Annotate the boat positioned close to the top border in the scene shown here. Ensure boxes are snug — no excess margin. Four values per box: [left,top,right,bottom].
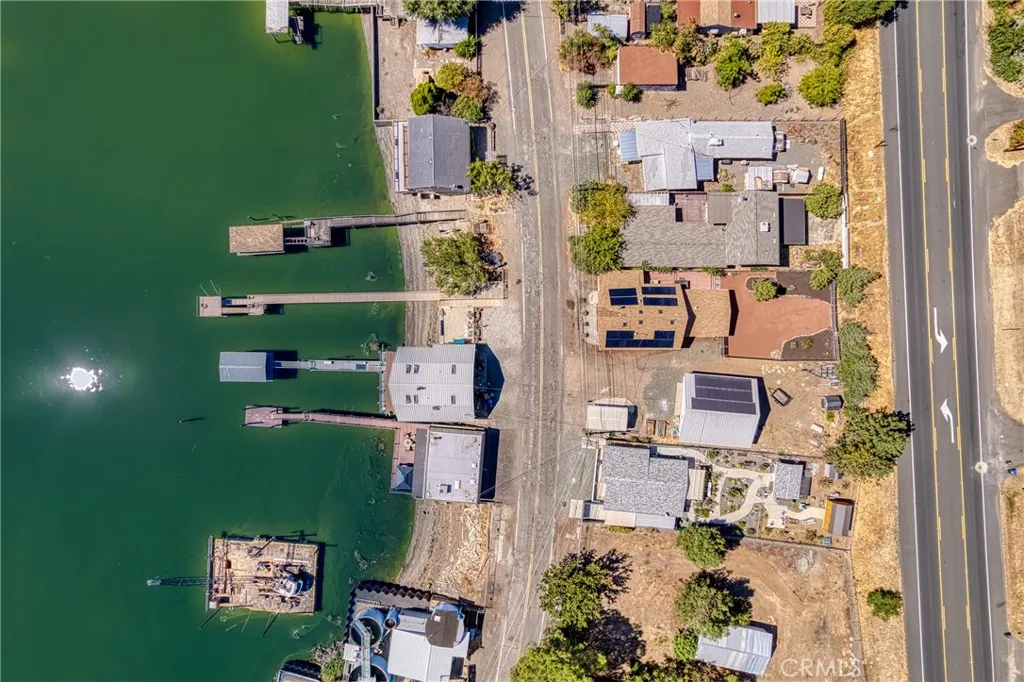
[289,10,303,42]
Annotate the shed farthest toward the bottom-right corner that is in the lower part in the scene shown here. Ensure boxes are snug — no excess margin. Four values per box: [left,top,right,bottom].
[823,498,855,536]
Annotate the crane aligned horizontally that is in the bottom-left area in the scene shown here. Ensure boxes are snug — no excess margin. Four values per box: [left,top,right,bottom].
[144,553,314,599]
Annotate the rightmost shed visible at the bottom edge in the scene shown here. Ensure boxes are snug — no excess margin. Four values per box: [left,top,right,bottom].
[694,621,772,675]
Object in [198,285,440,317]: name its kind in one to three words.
pier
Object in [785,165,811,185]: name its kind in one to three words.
shed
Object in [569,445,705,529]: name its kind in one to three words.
house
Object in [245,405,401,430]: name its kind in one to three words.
pier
